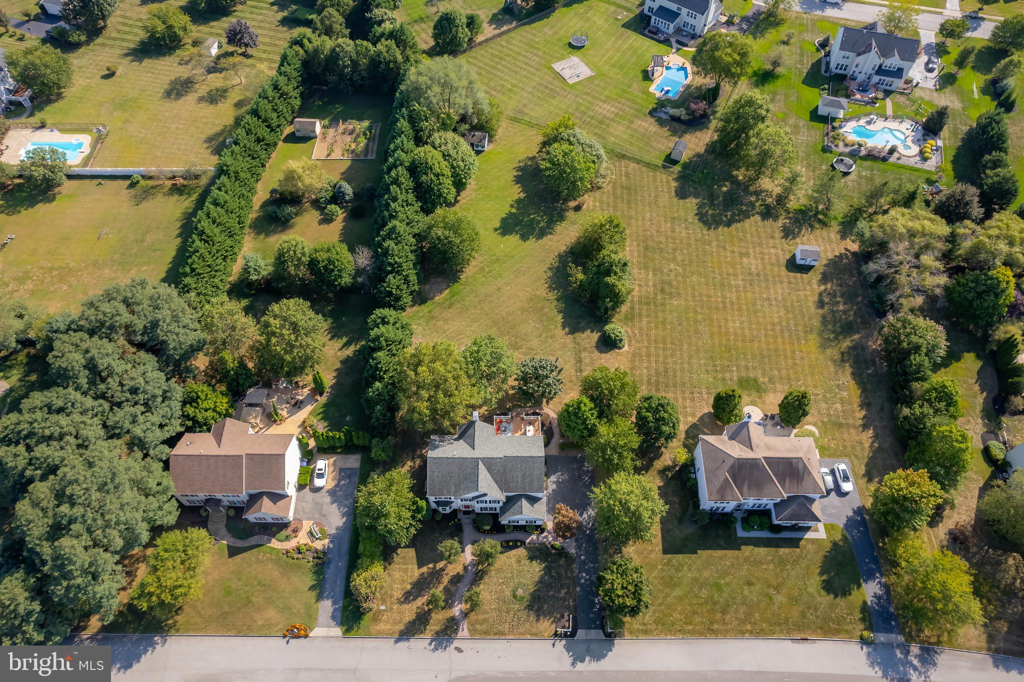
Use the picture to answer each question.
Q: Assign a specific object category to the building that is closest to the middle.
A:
home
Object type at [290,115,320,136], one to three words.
shed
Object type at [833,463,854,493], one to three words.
car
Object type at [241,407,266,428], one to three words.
gazebo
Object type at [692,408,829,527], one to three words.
house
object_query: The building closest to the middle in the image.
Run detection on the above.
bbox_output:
[426,409,546,524]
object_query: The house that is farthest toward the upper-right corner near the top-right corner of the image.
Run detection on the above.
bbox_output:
[829,11,921,89]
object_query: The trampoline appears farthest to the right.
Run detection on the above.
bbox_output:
[833,158,855,176]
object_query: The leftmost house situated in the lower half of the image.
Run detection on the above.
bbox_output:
[167,415,303,522]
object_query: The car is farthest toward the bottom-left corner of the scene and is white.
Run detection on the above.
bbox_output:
[313,459,329,487]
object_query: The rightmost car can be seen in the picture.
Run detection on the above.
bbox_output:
[925,55,938,71]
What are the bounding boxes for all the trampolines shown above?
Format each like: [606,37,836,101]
[833,158,855,176]
[571,31,587,49]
